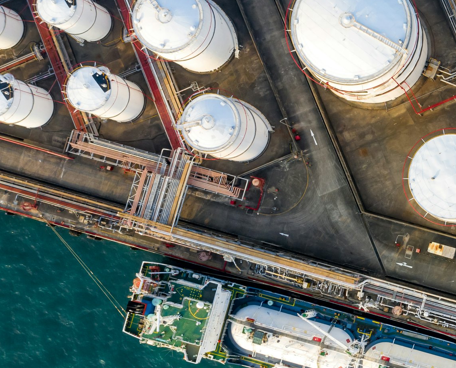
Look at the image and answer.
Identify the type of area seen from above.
industrial area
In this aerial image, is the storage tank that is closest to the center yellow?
No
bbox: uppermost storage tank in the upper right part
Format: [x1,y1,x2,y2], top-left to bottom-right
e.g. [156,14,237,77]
[285,0,430,114]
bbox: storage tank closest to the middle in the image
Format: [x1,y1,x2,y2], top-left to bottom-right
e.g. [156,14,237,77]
[174,89,275,164]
